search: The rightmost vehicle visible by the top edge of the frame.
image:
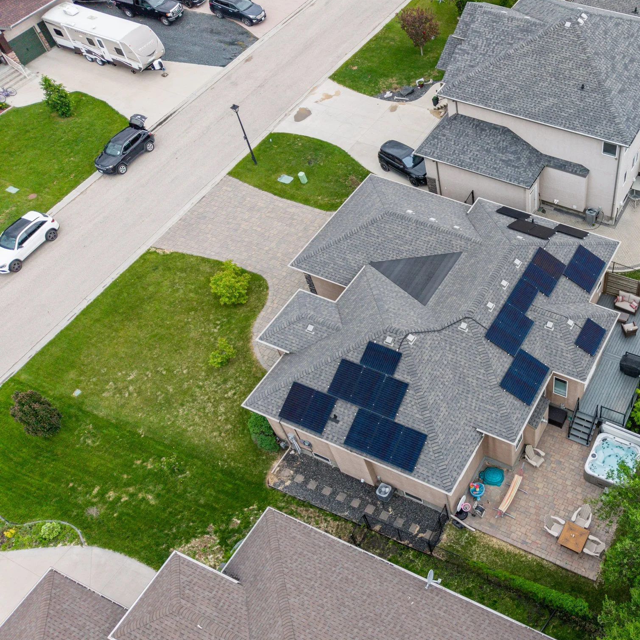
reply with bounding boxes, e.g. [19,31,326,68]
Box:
[207,0,266,26]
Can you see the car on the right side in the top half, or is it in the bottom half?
top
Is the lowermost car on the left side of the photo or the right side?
left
